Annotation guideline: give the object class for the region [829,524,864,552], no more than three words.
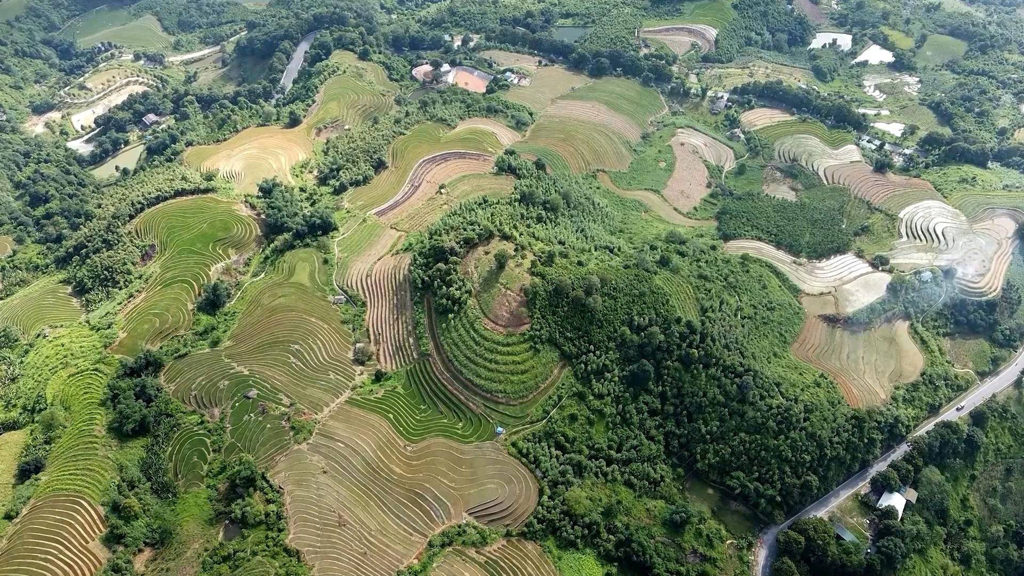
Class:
shed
